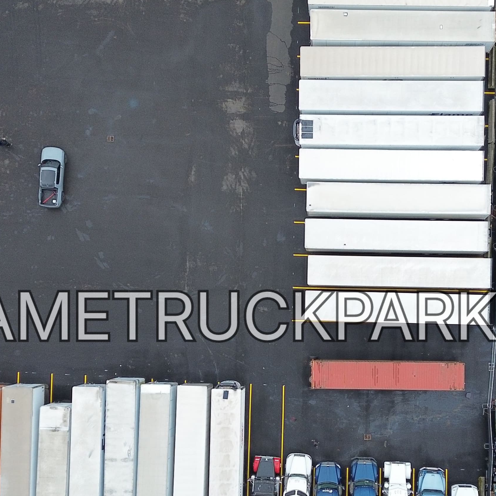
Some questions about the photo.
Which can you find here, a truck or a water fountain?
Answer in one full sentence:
It is a truck that can be seen here.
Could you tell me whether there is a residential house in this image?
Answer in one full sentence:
No, I can see no residential house in this picture.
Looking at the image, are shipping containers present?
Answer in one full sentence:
Yes, a shipping container is visible in the scene.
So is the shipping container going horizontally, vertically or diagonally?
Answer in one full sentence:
Seen from above, the shipping container lies horizontally.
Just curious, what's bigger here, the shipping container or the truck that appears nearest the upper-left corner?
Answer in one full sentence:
The shipping container is larger than the truck.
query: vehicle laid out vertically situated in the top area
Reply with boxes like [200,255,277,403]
[38,147,69,209]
